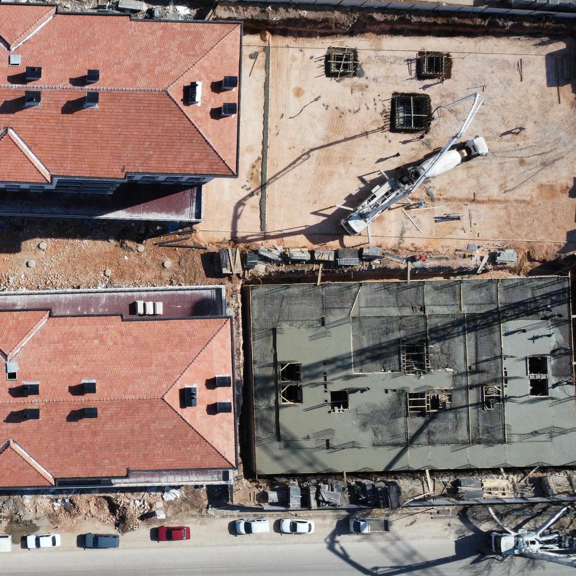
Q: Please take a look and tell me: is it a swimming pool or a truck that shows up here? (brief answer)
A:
truck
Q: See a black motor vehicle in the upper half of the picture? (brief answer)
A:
No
